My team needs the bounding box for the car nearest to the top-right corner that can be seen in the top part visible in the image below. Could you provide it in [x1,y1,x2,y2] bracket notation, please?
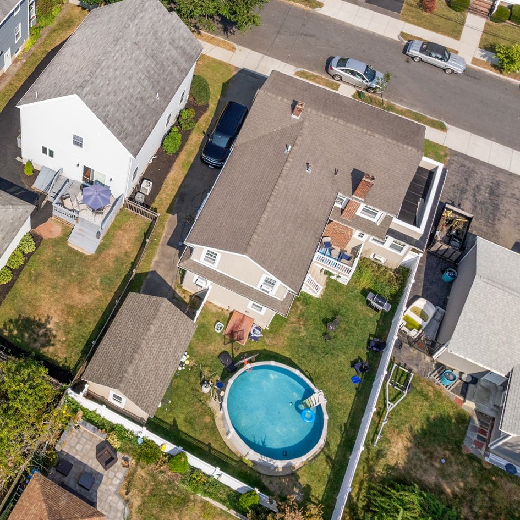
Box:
[403,39,467,76]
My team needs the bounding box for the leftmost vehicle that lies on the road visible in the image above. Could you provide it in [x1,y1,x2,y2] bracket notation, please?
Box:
[326,55,388,94]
